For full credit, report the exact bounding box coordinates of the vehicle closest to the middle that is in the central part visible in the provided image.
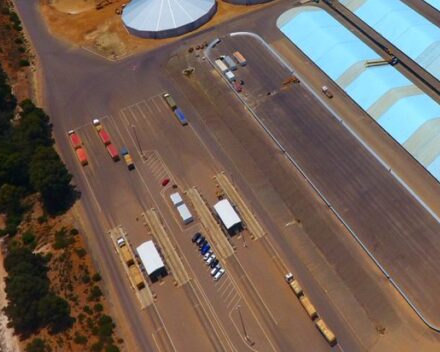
[212,188,229,200]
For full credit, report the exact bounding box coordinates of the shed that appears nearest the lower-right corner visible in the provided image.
[213,198,243,237]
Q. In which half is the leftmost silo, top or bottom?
top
